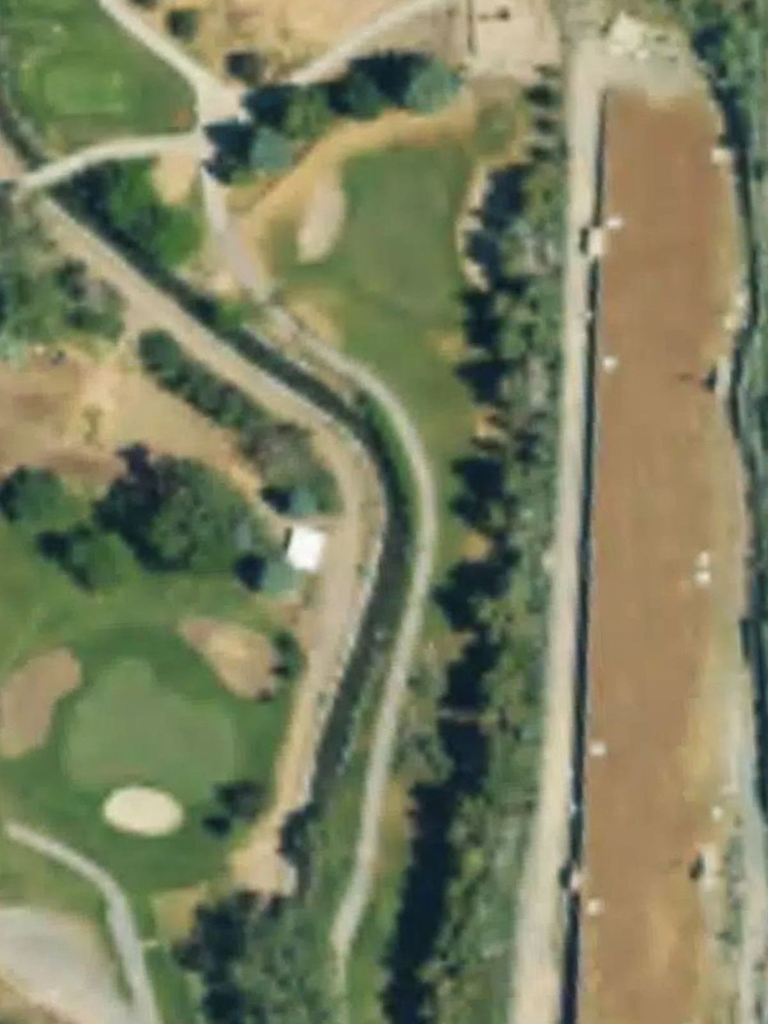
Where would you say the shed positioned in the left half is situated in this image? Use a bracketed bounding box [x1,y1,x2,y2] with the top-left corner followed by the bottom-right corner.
[287,526,326,569]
